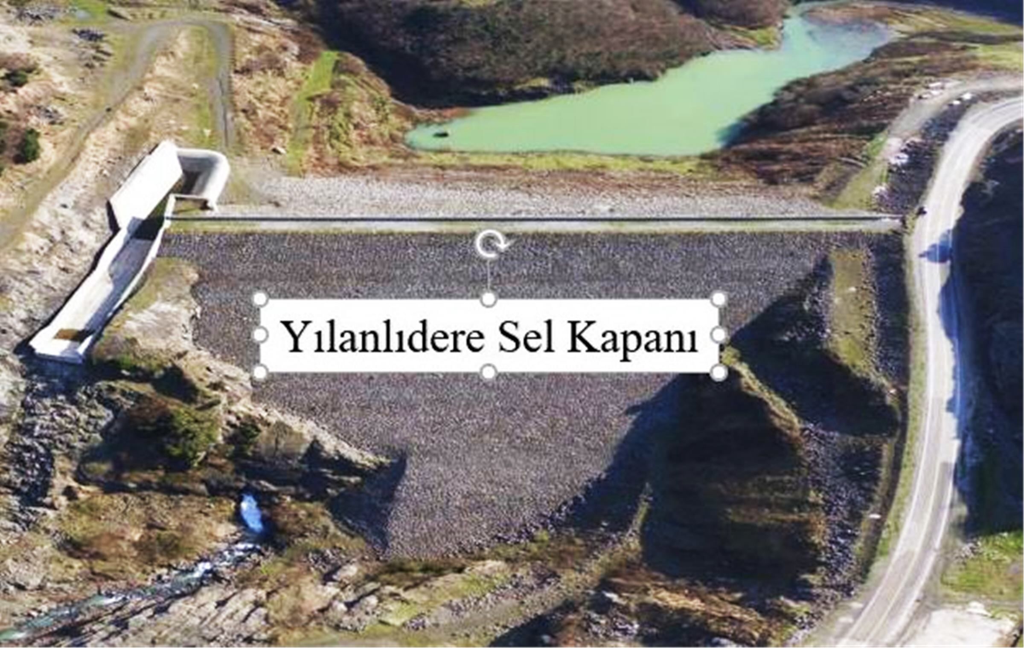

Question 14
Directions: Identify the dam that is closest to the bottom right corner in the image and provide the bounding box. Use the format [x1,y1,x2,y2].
[171,179,915,560]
